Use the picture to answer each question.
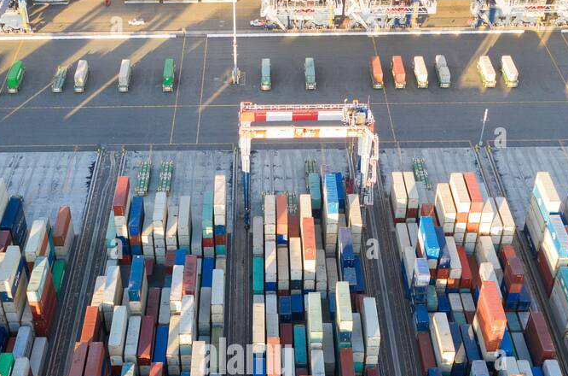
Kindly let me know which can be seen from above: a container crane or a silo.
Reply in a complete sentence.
I can see a container crane in this picture.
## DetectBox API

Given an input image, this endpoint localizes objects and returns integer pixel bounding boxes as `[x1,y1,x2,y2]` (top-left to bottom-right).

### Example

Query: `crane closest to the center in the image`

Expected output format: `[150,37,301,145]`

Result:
[235,94,372,219]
